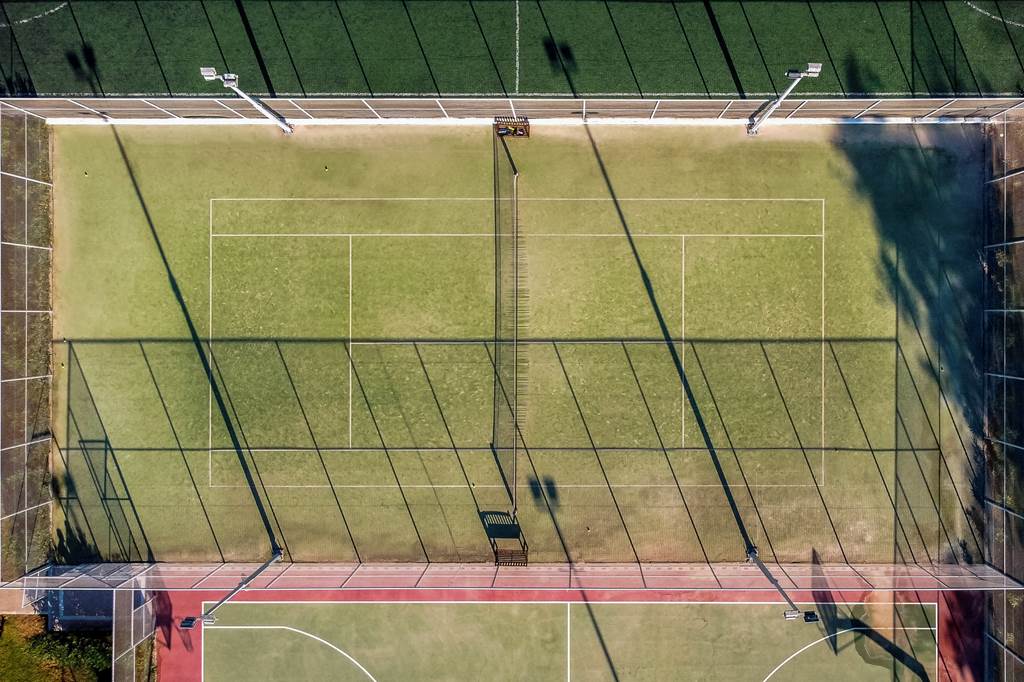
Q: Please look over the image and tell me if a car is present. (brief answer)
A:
No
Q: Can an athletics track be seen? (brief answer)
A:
No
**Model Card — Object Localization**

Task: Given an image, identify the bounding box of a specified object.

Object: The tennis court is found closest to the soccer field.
[55,124,981,562]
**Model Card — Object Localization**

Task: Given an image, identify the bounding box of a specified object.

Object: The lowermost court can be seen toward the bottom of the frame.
[157,571,981,682]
